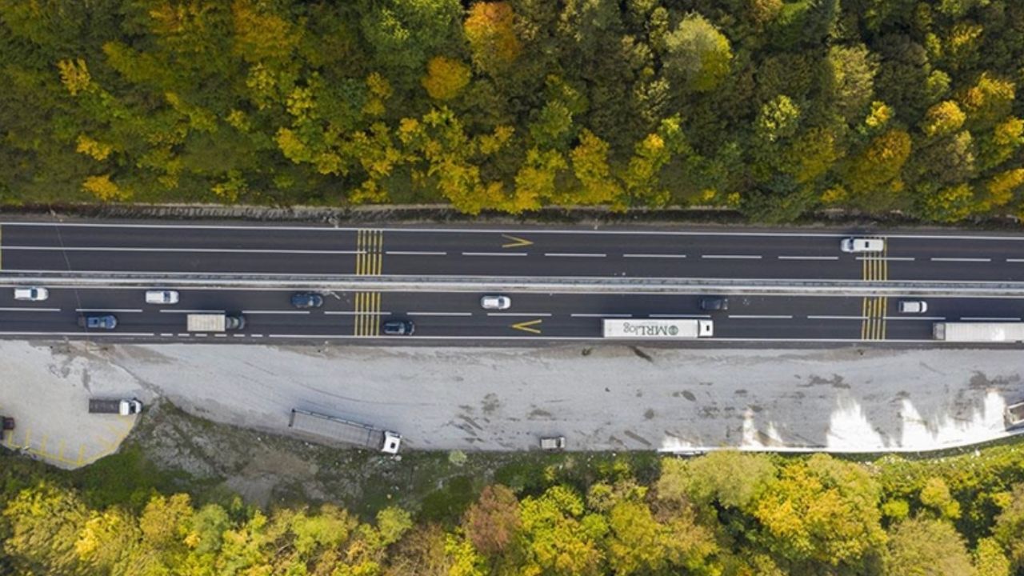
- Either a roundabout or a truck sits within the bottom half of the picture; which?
truck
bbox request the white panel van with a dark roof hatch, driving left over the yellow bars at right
[839,238,883,254]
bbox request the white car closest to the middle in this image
[481,295,511,310]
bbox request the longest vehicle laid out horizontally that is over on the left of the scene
[289,409,402,456]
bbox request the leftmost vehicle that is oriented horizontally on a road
[17,287,49,302]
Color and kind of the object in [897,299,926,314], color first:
white car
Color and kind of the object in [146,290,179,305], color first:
white car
